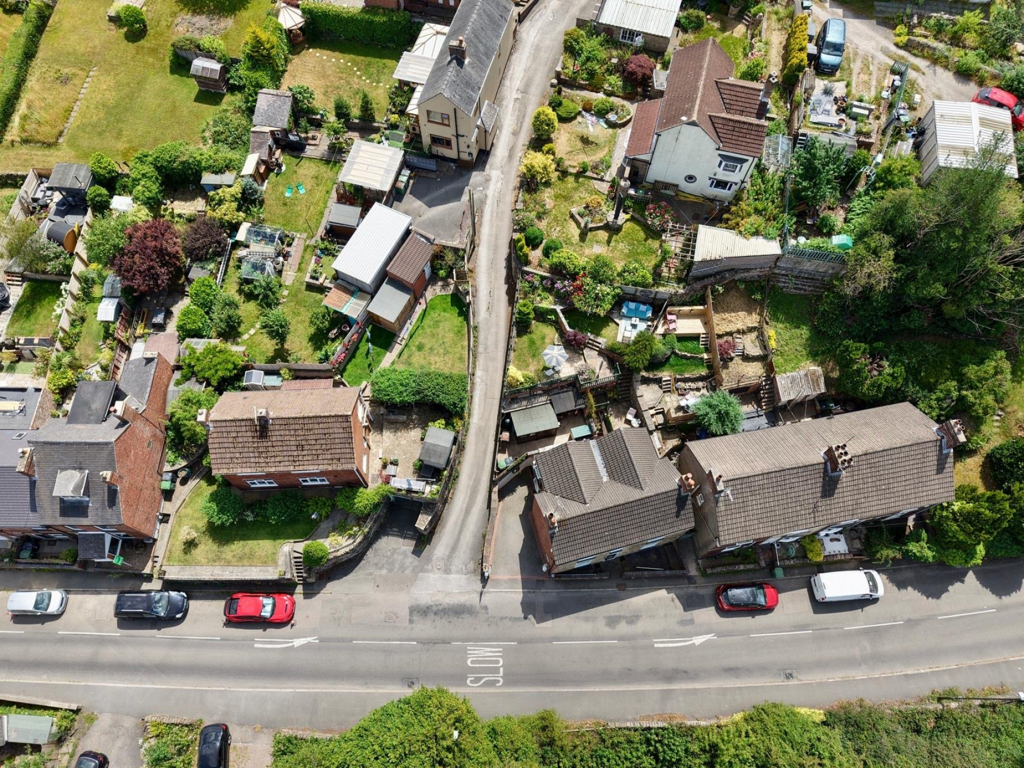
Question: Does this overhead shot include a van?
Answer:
Yes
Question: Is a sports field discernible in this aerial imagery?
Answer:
No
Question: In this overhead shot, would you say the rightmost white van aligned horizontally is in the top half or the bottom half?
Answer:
bottom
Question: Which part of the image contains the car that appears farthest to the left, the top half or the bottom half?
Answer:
bottom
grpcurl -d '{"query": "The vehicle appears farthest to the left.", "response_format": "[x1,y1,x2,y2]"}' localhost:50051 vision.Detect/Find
[1,586,74,621]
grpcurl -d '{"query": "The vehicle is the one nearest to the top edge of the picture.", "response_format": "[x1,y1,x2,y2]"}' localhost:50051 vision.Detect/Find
[818,21,851,76]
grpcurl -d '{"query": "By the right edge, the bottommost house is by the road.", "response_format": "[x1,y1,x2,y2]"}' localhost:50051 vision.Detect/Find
[680,403,974,556]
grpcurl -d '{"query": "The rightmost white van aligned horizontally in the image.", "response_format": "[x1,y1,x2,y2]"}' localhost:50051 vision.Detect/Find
[808,568,885,605]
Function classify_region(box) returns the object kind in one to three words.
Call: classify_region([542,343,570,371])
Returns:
umbrella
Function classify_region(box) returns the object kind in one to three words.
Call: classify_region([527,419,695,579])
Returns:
house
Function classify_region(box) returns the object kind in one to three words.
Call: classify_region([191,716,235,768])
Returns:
car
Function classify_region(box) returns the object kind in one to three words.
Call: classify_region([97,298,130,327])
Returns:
shed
